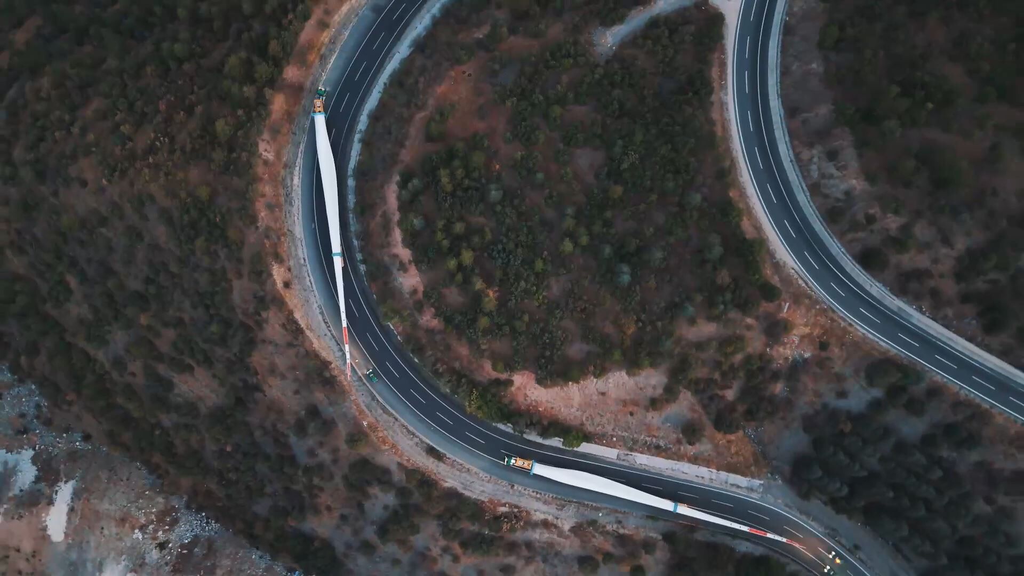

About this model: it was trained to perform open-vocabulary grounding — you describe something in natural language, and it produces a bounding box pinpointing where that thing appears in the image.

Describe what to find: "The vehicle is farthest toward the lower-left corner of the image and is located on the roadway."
[366,369,379,385]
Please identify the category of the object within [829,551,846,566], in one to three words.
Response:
vehicle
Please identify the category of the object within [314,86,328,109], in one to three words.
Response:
vehicle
